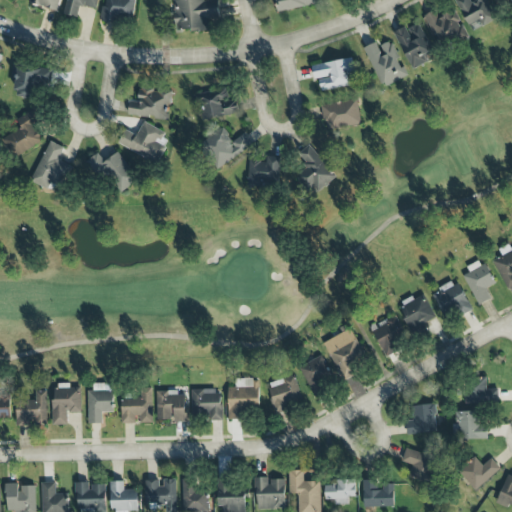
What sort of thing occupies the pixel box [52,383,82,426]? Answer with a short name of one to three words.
house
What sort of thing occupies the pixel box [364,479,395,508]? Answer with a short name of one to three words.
house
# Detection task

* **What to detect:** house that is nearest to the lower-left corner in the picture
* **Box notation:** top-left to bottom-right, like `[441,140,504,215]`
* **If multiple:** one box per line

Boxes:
[4,476,36,512]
